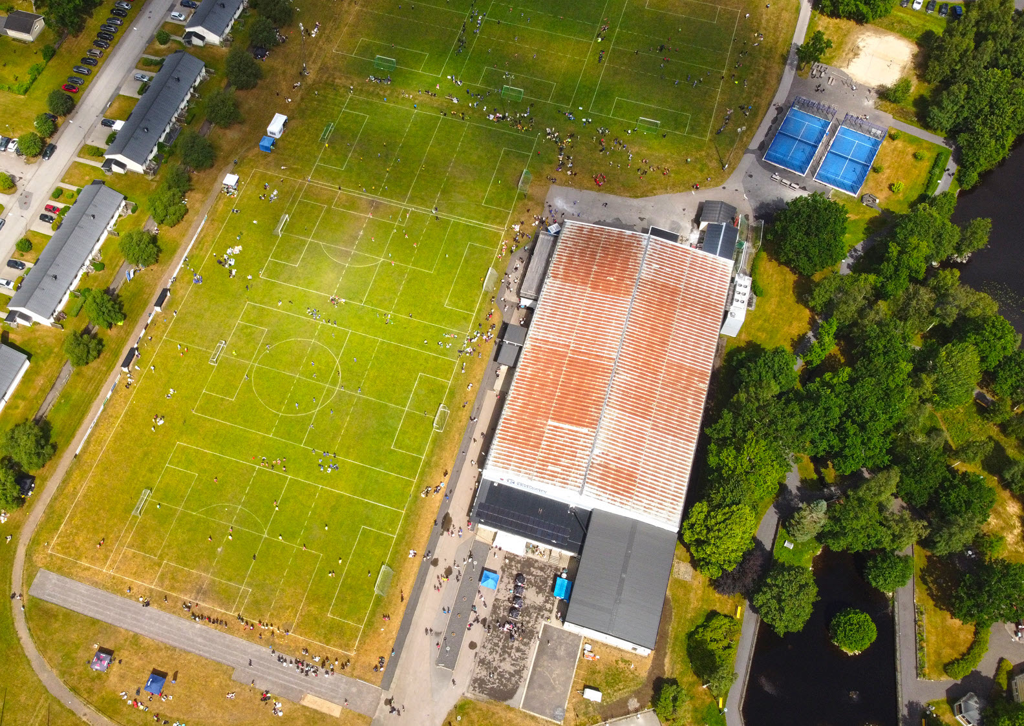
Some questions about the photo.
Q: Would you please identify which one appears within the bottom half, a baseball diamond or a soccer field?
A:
soccer field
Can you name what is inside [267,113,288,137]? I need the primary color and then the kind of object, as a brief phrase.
white tent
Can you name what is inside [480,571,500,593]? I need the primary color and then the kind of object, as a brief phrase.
blue gazebo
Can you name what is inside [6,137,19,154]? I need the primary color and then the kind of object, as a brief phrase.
white vehicle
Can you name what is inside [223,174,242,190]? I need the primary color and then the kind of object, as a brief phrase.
white gazebo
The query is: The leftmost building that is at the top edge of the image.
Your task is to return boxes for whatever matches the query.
[4,10,43,39]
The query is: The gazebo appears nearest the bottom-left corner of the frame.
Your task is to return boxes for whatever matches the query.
[90,652,116,674]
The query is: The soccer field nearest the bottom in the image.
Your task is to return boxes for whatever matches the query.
[113,442,404,653]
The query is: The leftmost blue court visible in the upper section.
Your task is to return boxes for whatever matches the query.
[763,94,834,177]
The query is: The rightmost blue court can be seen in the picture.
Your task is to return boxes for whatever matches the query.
[812,112,882,196]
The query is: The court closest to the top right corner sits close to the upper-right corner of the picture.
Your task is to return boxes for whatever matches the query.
[848,28,915,85]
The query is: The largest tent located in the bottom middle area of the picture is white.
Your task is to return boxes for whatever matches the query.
[493,531,527,557]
